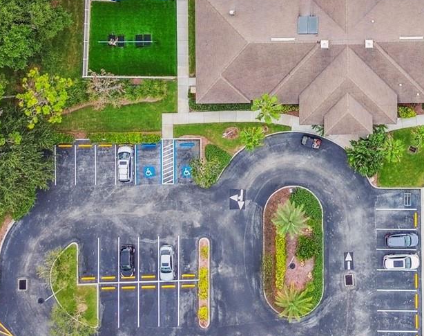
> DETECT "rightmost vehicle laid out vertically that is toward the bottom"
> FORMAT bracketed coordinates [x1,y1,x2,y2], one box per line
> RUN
[156,245,174,281]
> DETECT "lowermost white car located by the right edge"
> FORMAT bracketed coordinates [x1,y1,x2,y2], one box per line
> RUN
[383,255,419,273]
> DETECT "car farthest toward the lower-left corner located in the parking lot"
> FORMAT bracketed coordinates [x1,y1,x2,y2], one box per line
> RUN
[117,244,134,278]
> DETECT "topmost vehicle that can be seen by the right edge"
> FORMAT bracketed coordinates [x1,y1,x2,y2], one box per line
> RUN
[385,234,418,252]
